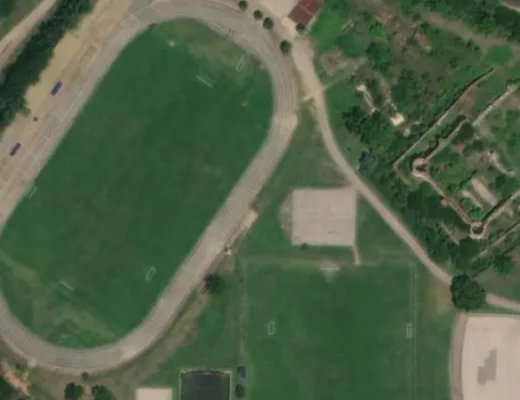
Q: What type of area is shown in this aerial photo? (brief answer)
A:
sports ground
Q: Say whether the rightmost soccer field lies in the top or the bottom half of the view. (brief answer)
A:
bottom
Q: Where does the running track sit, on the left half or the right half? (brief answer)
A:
left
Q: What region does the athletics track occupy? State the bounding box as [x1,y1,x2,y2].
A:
[0,0,297,373]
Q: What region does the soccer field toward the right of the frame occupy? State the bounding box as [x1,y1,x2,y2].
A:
[244,261,414,400]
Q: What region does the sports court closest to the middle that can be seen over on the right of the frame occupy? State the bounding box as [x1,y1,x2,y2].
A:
[292,188,355,246]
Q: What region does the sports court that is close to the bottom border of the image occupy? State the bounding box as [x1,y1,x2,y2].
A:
[182,372,230,400]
